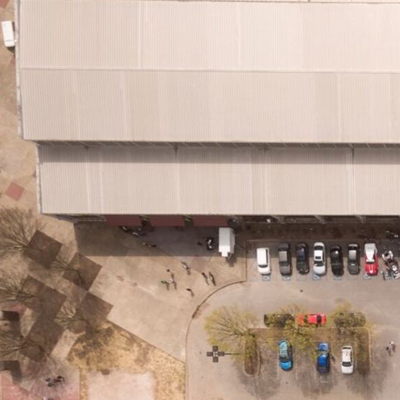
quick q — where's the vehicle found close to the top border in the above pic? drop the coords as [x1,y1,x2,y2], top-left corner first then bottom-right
[1,17,20,54]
